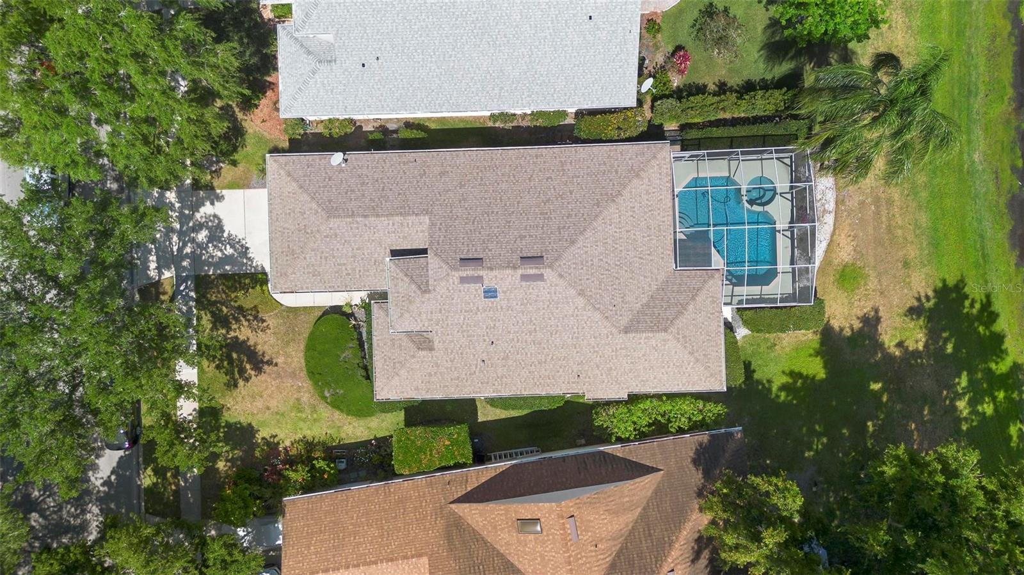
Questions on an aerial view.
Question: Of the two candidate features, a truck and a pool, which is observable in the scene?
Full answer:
I can see a pool in this picture.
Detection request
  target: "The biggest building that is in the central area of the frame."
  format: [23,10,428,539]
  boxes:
[265,139,728,403]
